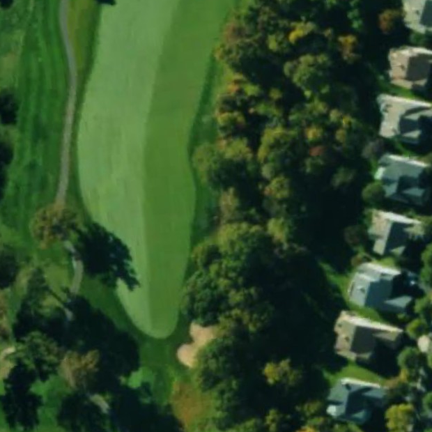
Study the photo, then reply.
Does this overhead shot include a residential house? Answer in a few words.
Yes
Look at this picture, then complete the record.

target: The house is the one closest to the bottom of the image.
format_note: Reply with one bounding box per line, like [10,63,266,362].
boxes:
[320,373,390,420]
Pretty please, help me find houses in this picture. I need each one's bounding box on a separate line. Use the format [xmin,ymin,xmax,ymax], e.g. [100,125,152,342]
[343,257,414,313]
[360,151,432,205]
[320,373,390,420]
[335,308,404,356]
[381,42,432,88]
[362,205,429,252]
[373,88,432,139]
[400,0,432,32]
